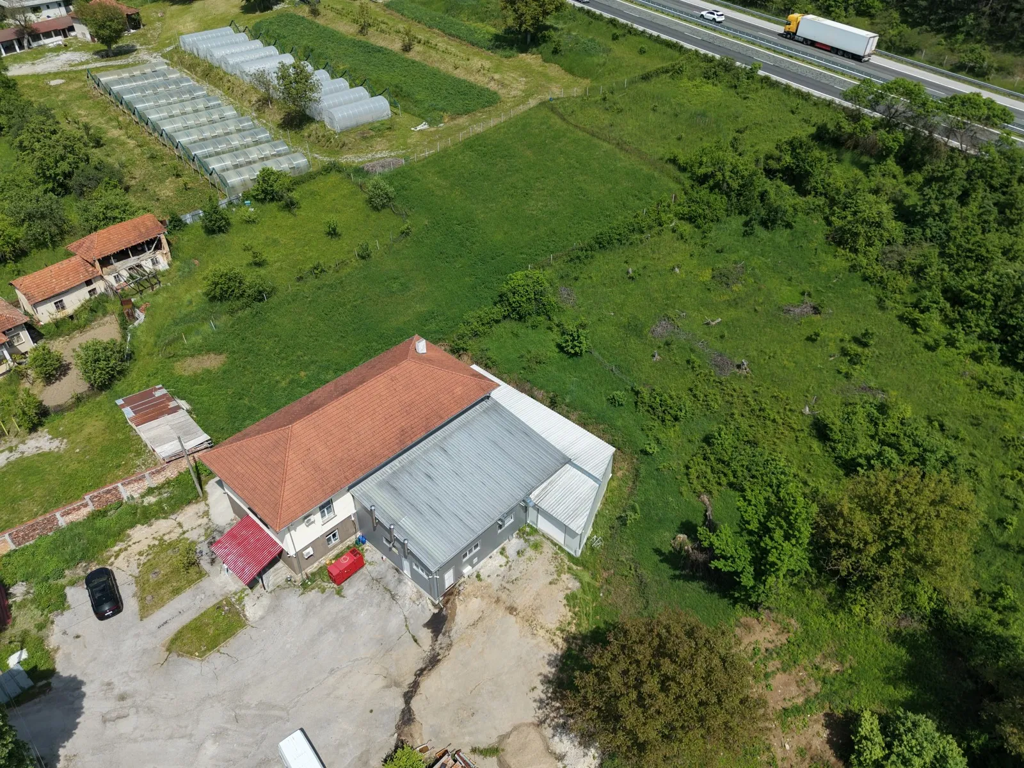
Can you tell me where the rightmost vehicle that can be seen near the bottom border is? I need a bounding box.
[278,730,328,768]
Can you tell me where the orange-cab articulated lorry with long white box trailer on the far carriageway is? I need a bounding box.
[785,18,870,60]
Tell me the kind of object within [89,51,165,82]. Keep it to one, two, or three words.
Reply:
greenhouse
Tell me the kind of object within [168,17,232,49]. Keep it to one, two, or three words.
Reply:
greenhouse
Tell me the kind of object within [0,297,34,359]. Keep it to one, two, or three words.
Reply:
house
